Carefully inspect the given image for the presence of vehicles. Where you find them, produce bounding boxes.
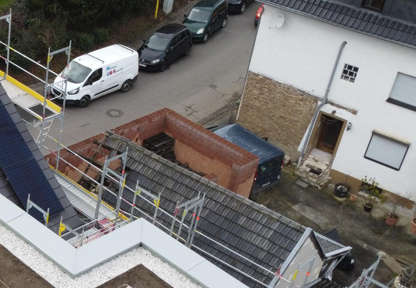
[233,0,252,14]
[134,20,196,72]
[176,0,234,43]
[205,118,287,191]
[49,40,142,107]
